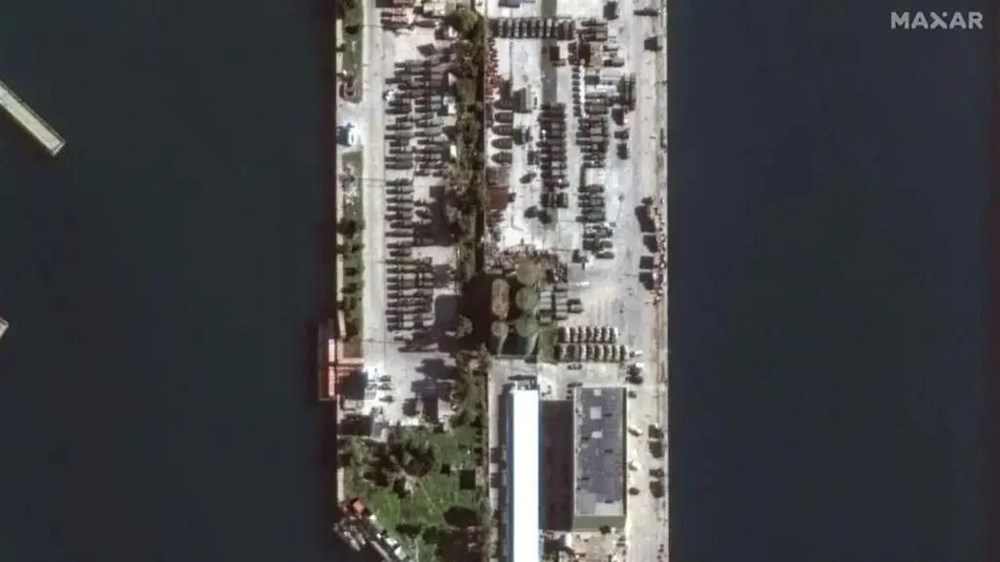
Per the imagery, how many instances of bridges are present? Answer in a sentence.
The photo contains no bridges.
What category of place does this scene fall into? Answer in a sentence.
The area seen from above is a port.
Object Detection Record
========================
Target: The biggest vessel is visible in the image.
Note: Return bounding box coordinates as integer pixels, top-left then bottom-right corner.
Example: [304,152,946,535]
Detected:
[318,323,335,405]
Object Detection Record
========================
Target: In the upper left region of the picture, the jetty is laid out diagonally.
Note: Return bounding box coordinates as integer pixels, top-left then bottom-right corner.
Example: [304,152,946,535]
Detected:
[0,82,67,157]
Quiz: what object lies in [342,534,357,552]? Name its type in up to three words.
boat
